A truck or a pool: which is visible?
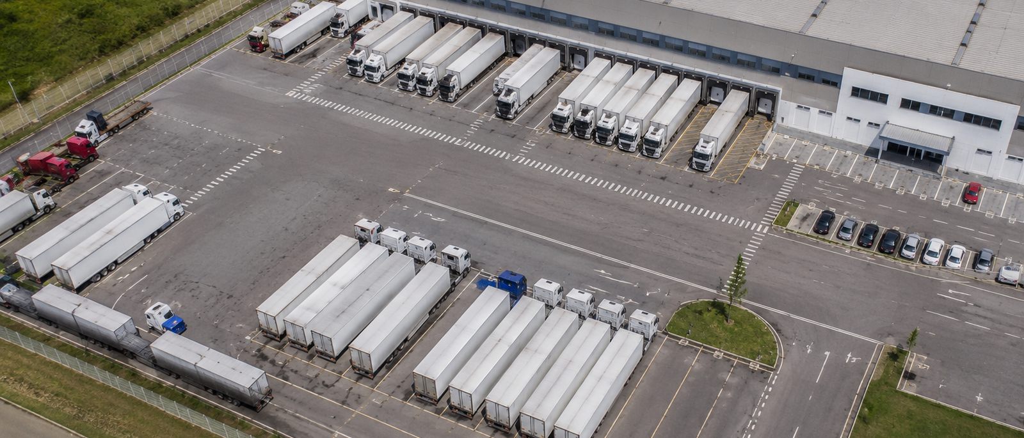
truck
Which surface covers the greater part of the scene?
paved ground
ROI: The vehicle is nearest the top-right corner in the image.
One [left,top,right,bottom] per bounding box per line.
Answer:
[963,181,980,204]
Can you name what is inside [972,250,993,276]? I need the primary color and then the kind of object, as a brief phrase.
gray car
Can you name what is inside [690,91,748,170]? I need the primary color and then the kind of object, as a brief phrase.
white truck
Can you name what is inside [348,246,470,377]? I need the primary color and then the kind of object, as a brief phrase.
white truck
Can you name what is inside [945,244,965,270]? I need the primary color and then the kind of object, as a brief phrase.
white car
